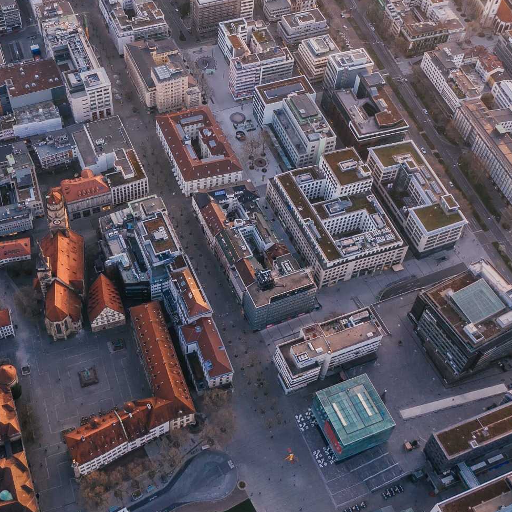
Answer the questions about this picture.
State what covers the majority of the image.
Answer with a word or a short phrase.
buildings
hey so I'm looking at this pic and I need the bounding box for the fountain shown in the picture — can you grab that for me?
[194,56,217,70]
